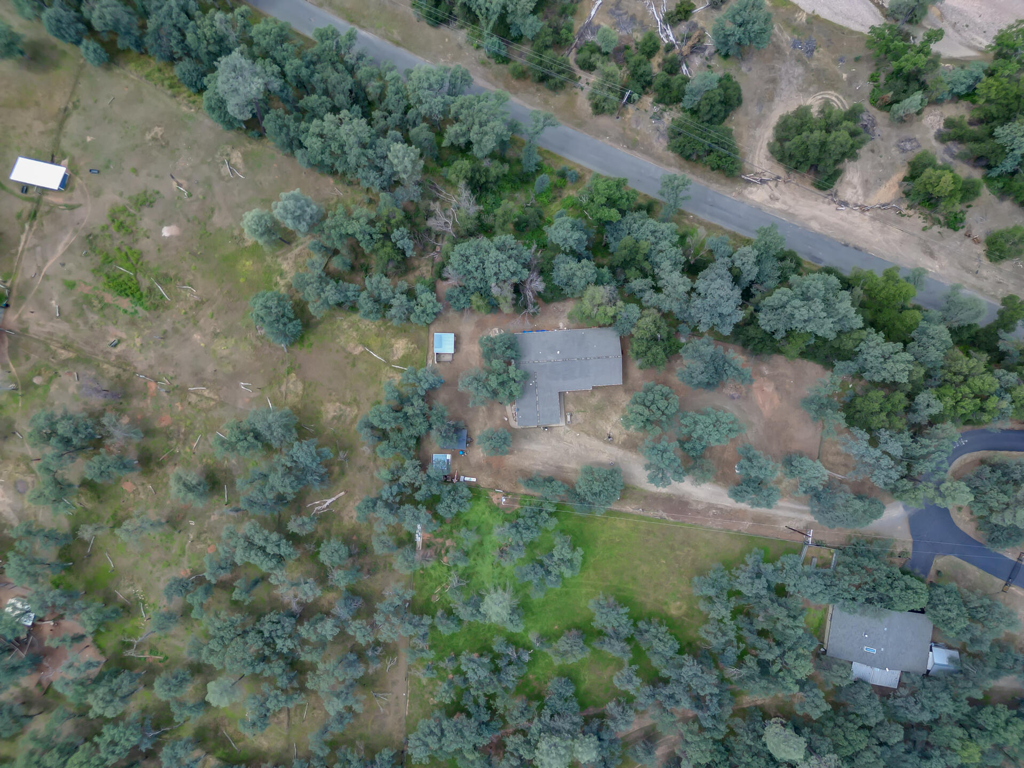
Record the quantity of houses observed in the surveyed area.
two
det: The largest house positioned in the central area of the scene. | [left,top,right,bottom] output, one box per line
[513,326,623,427]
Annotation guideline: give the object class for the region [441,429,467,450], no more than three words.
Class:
shed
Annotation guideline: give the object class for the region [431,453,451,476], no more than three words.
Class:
shed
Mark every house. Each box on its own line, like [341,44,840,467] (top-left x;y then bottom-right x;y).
[822,602,934,674]
[513,326,623,427]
